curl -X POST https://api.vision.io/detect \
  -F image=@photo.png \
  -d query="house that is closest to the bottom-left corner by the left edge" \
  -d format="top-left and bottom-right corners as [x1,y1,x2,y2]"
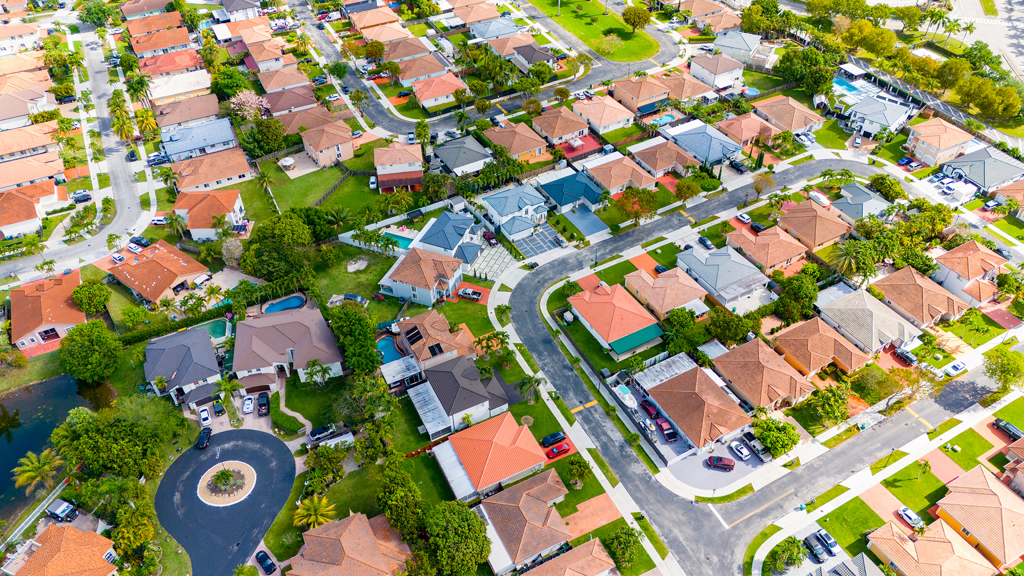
[10,522,118,576]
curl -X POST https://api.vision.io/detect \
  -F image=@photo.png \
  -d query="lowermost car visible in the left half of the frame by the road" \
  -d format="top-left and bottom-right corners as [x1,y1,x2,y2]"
[254,549,278,576]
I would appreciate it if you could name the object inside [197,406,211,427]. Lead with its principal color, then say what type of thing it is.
white car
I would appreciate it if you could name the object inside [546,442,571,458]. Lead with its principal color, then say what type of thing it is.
red car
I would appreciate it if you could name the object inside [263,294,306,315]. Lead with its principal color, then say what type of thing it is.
blue swimming pool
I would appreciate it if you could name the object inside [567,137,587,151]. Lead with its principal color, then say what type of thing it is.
white gazebo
